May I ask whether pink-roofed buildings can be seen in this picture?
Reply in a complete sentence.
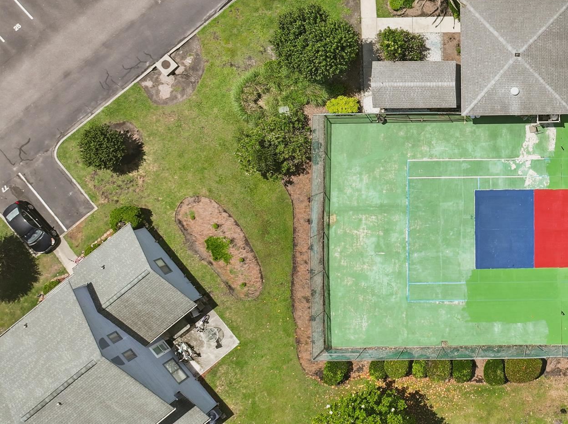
No, I can't see a single pink-roofed building in this photo.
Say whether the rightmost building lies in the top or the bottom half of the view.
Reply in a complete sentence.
The top half of the photo is where the rightmost building is.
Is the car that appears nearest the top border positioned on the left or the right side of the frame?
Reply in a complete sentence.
The car that appears nearest the top border appears in the left half of the scene.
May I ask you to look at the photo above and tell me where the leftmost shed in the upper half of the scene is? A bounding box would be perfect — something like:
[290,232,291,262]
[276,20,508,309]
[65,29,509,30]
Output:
[370,61,458,108]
